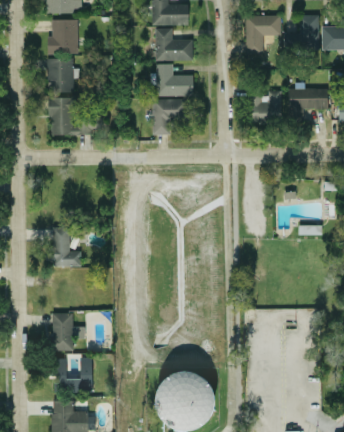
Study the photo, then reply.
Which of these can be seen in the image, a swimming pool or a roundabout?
swimming pool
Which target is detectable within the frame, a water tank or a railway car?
water tank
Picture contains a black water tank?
No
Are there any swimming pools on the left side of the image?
Yes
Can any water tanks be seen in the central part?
No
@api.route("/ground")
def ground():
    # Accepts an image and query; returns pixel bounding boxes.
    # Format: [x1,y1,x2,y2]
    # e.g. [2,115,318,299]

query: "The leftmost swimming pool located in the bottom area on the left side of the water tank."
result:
[66,354,81,379]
